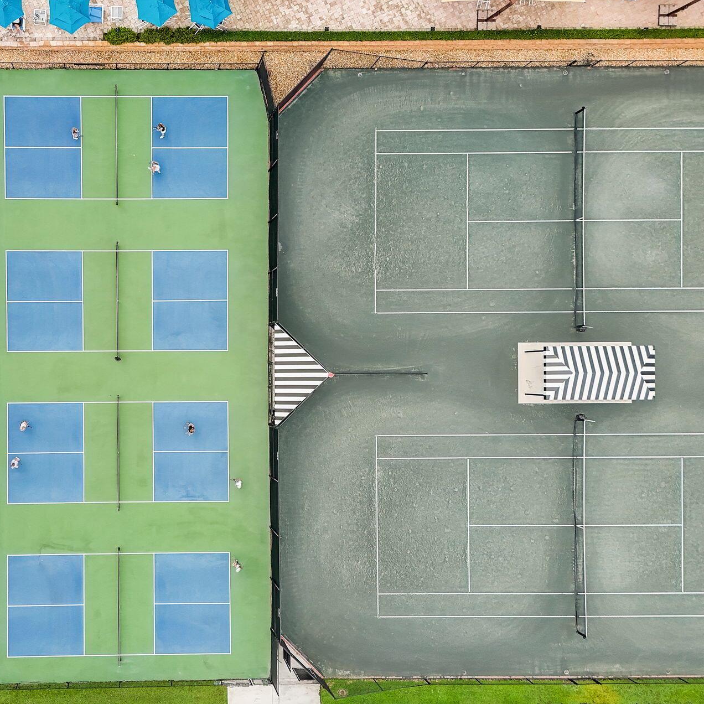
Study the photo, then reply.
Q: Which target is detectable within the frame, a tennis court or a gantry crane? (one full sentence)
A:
It is a tennis court that can be seen here.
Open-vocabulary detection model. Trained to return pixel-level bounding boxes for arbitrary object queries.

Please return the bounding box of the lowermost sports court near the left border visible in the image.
[0,528,272,684]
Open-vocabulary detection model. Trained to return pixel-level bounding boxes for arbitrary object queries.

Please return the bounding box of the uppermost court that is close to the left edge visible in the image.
[0,70,271,225]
